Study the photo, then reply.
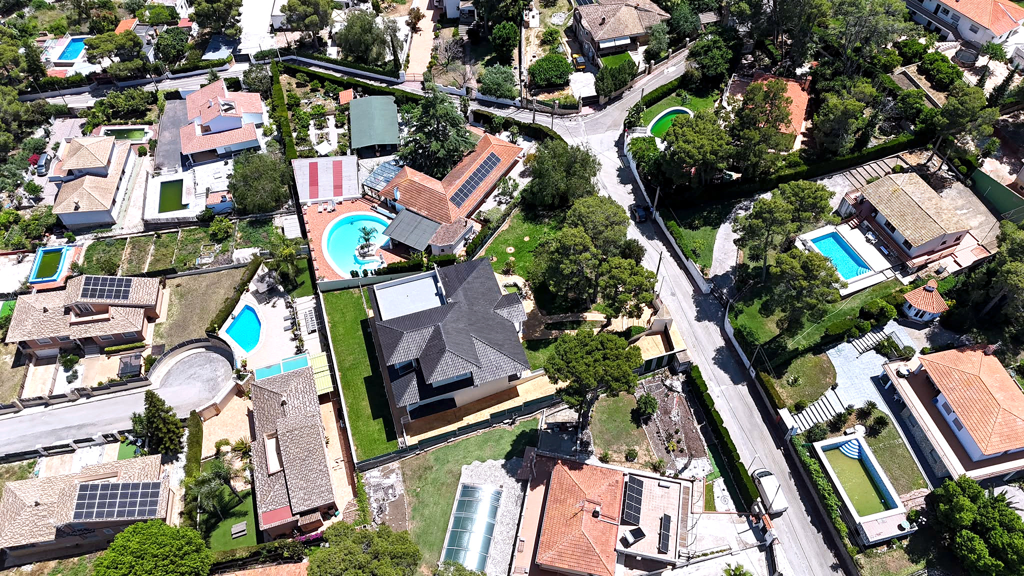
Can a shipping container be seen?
No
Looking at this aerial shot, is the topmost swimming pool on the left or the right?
left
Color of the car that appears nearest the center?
black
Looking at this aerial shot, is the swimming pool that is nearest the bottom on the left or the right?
right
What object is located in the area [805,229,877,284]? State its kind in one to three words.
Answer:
swimming pool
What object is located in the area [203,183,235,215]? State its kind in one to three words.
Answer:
shed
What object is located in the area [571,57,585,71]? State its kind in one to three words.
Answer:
car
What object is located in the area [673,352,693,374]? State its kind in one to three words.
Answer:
house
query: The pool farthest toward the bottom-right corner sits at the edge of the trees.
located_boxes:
[806,430,910,532]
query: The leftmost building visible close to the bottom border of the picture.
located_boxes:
[0,455,185,554]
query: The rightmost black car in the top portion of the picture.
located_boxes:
[628,202,650,226]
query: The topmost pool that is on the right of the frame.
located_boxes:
[647,107,696,140]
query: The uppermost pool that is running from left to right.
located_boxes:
[99,126,151,142]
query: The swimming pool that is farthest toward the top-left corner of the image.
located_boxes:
[51,36,94,63]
